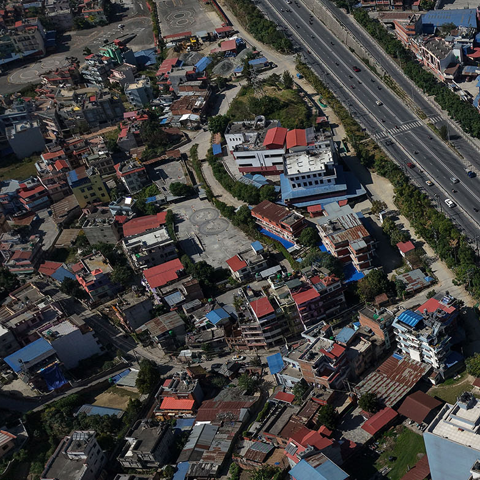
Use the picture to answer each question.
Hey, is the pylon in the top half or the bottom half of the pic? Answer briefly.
top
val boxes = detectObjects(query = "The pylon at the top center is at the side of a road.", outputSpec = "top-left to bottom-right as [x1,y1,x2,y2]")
[242,61,264,101]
